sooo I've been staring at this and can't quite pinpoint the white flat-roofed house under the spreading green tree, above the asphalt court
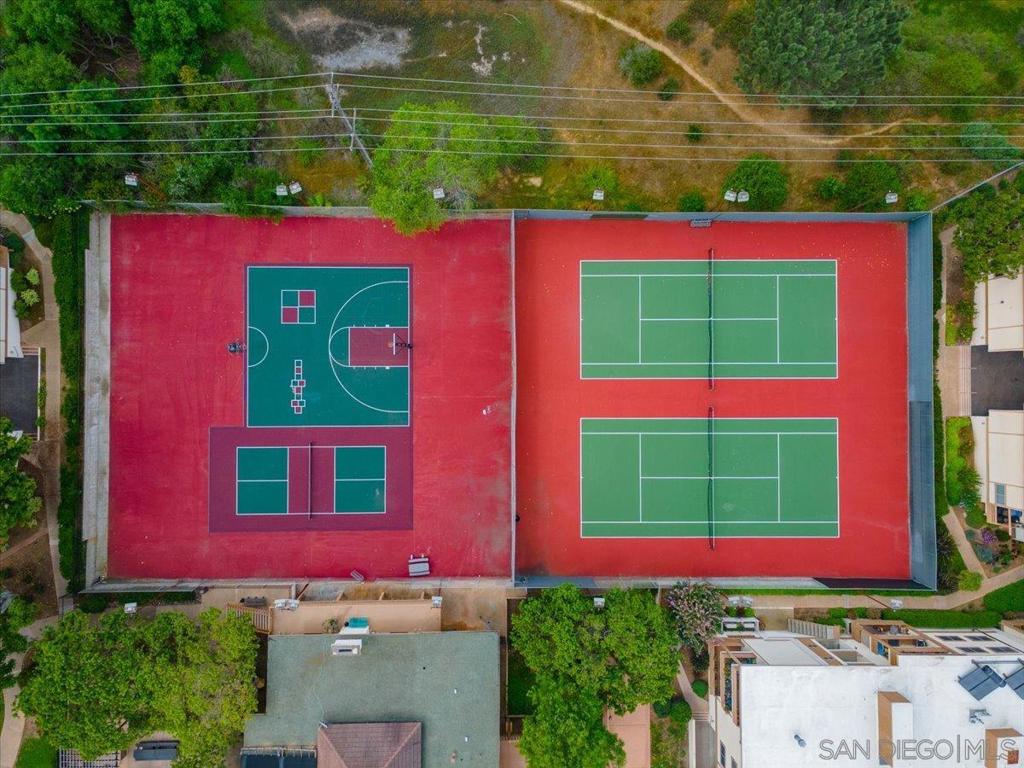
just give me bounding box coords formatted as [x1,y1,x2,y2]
[966,274,1024,351]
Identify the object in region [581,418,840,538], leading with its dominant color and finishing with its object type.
green tennis court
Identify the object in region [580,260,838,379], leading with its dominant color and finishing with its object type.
green tennis court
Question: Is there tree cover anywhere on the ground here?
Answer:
Yes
